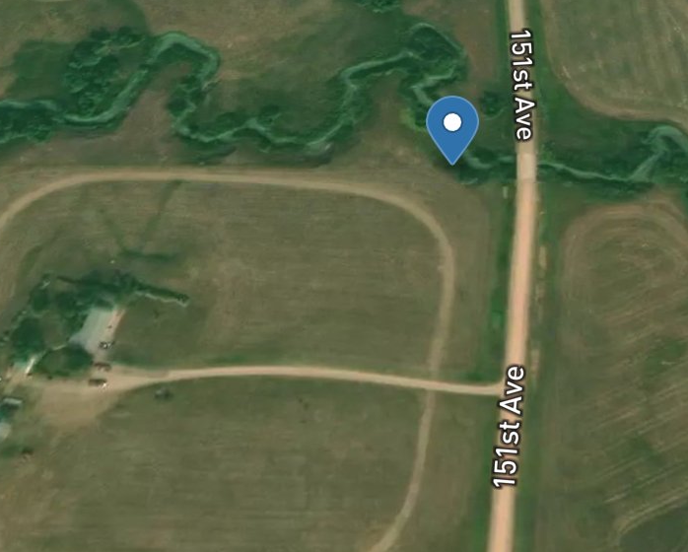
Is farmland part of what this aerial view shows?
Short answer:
Yes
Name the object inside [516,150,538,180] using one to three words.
bridge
